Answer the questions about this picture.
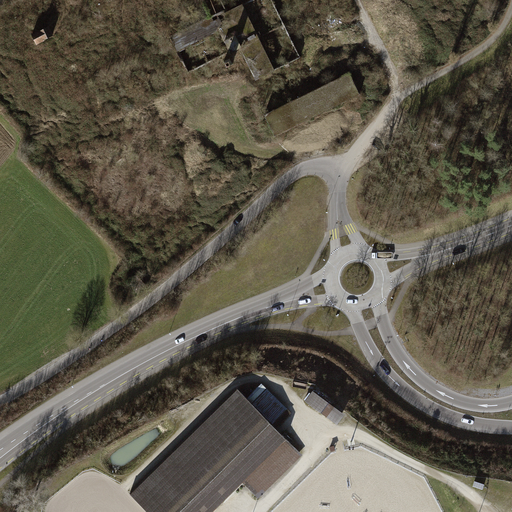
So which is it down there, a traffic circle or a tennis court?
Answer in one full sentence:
Visible in the photo is a traffic circle.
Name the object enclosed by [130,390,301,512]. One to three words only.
barn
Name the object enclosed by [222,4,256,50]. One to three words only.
building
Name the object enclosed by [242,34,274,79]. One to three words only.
building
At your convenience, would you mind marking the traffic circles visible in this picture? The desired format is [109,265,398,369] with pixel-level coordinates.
[310,228,411,324]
